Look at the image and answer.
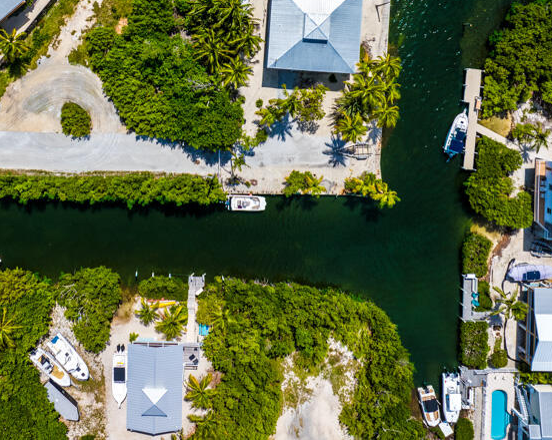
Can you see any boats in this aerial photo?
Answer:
Yes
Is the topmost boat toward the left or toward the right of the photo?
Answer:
right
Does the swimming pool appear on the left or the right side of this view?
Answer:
right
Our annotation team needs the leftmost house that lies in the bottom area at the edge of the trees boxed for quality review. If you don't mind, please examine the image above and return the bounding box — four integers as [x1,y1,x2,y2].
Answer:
[127,334,200,436]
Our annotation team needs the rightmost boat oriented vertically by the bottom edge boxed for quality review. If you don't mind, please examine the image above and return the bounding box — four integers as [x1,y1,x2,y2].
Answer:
[441,369,462,423]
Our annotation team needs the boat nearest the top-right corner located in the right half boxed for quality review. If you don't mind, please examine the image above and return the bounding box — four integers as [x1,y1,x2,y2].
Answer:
[441,110,468,158]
